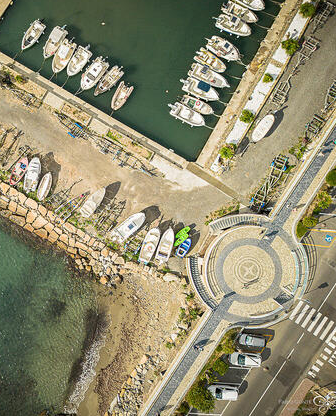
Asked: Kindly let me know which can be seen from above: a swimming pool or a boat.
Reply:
boat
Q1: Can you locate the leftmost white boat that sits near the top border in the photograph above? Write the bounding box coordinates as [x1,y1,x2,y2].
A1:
[13,16,46,63]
